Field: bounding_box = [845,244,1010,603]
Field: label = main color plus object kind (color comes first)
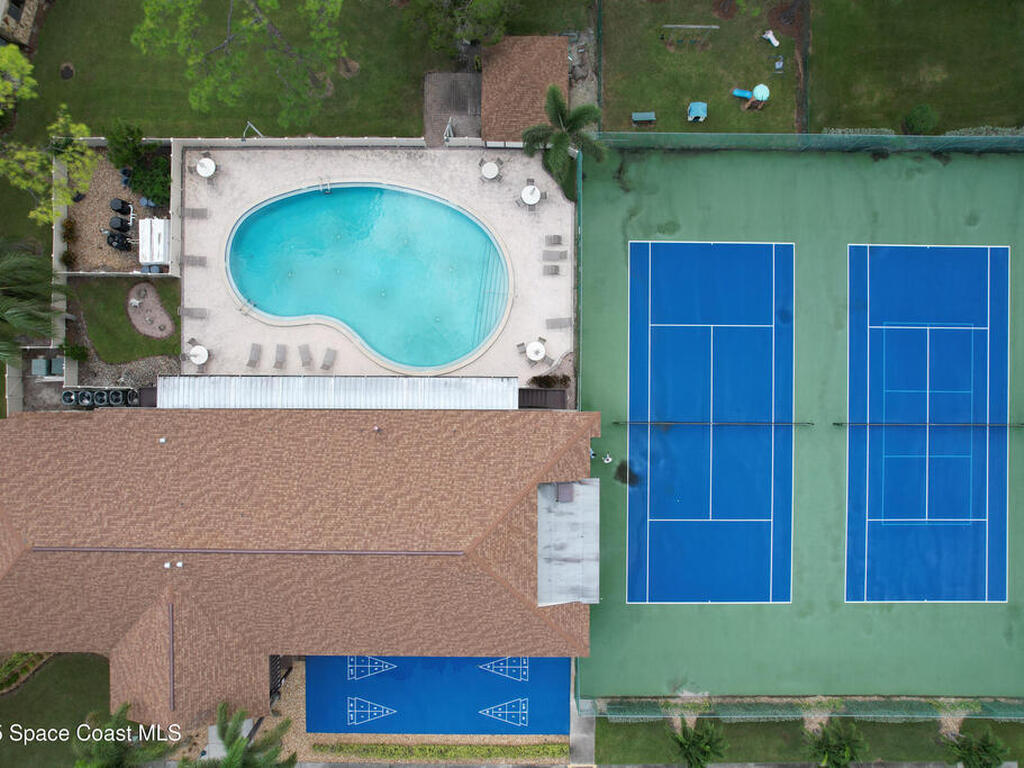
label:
blue tennis court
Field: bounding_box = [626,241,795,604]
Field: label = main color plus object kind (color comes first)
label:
blue tennis court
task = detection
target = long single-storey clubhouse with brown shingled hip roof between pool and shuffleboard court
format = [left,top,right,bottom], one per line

[0,408,600,734]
